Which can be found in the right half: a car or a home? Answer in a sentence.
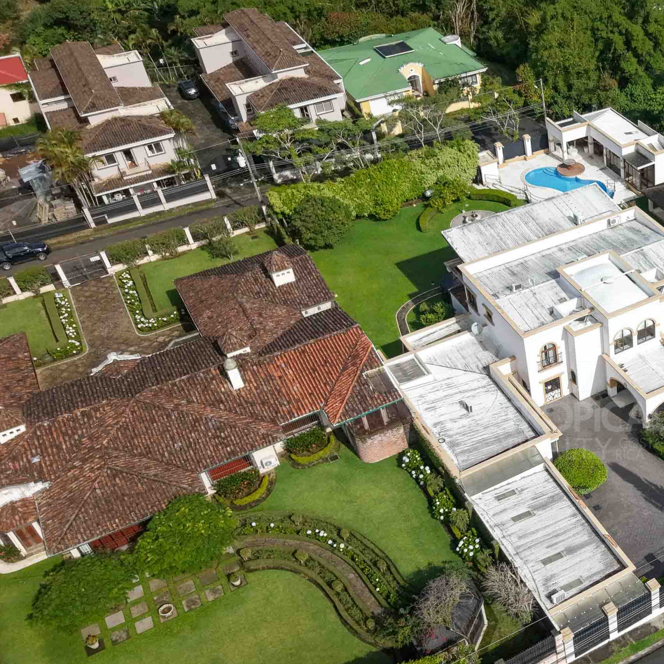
It is a home that can be seen in the right half.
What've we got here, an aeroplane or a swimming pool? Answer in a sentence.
The image shows a swimming pool.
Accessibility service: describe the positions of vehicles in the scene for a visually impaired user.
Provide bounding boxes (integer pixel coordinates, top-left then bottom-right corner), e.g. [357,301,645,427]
[172,76,191,98]
[0,243,48,268]
[218,106,240,128]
